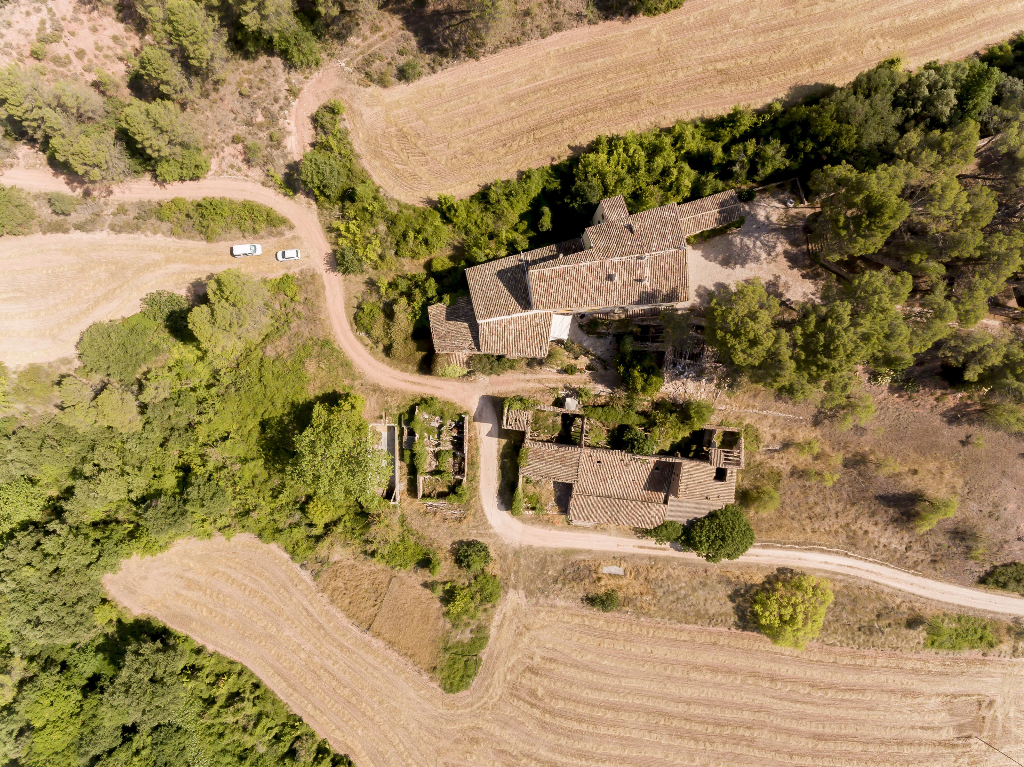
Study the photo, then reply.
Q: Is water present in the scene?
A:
No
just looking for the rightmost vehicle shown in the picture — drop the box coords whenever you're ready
[276,248,300,260]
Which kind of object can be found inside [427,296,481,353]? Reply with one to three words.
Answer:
shed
